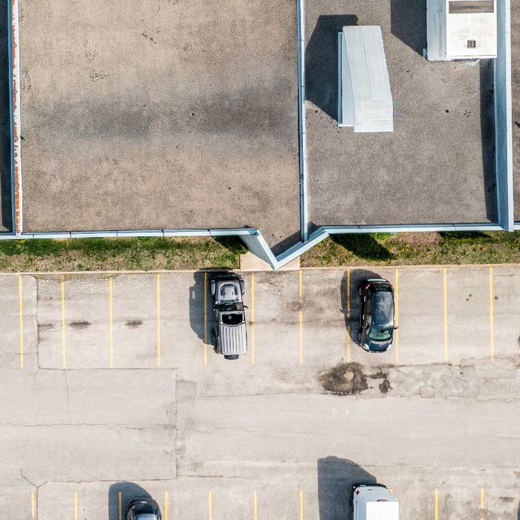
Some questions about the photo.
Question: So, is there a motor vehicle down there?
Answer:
Yes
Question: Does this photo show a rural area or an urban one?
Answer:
urban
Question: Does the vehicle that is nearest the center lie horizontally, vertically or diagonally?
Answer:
vertically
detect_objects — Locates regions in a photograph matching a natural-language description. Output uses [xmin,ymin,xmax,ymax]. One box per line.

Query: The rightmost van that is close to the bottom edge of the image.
[350,480,404,520]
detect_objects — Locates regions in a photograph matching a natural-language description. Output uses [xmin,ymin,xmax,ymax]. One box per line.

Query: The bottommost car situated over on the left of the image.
[123,492,158,520]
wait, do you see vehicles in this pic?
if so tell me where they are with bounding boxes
[350,480,404,520]
[206,273,249,361]
[123,492,158,520]
[355,277,398,352]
